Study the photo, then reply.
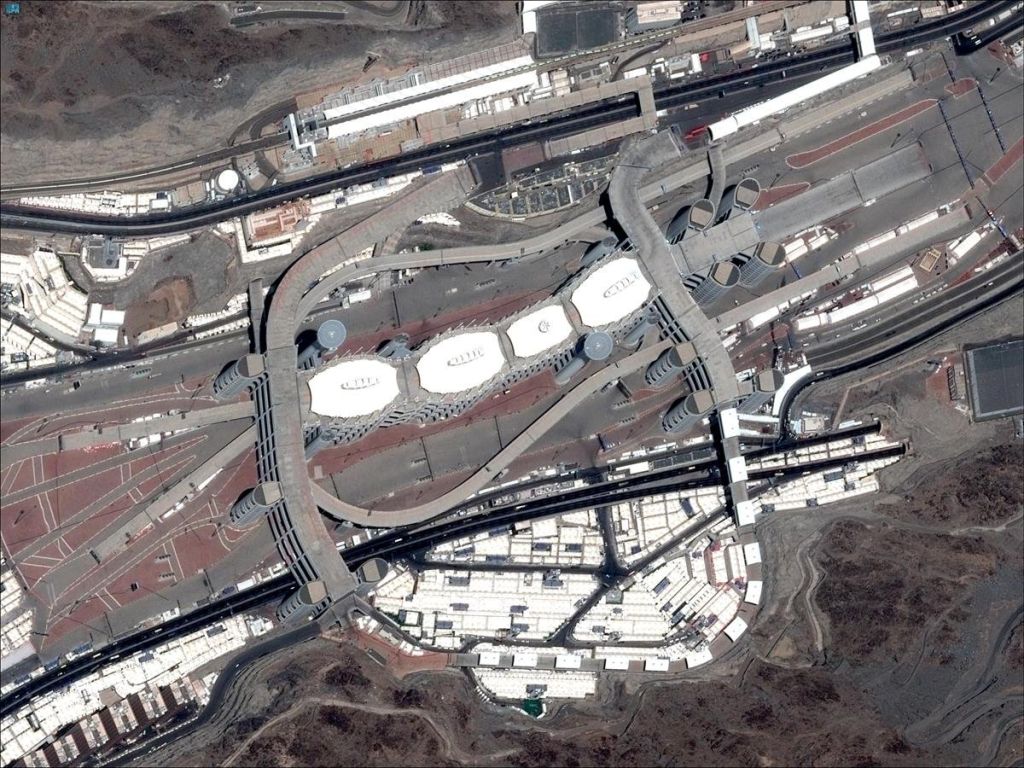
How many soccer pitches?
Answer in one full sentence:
No soccer pitches are visible.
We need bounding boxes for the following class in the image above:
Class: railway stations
[298,55,540,141]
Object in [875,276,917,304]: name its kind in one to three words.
shed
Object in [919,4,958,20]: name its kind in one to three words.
building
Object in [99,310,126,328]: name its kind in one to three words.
building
